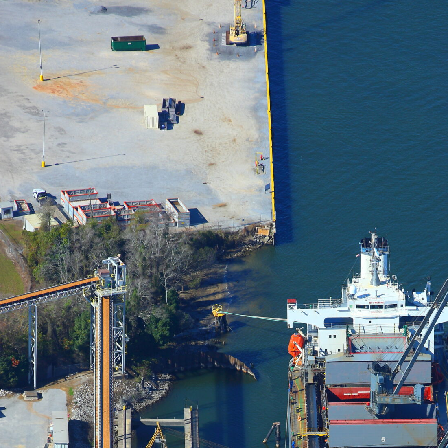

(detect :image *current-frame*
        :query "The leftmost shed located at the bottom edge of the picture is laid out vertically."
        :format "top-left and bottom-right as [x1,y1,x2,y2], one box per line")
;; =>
[50,409,69,448]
